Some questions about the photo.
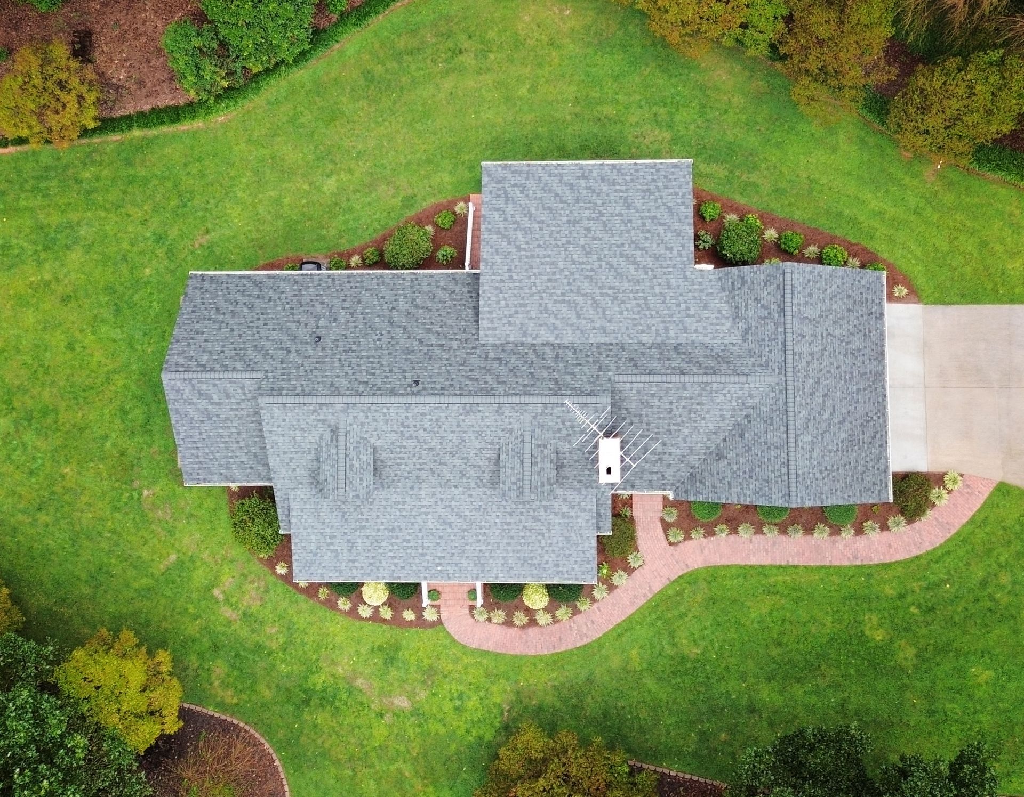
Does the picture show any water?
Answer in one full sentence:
No, the picture contains no water.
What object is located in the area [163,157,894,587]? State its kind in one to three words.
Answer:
house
